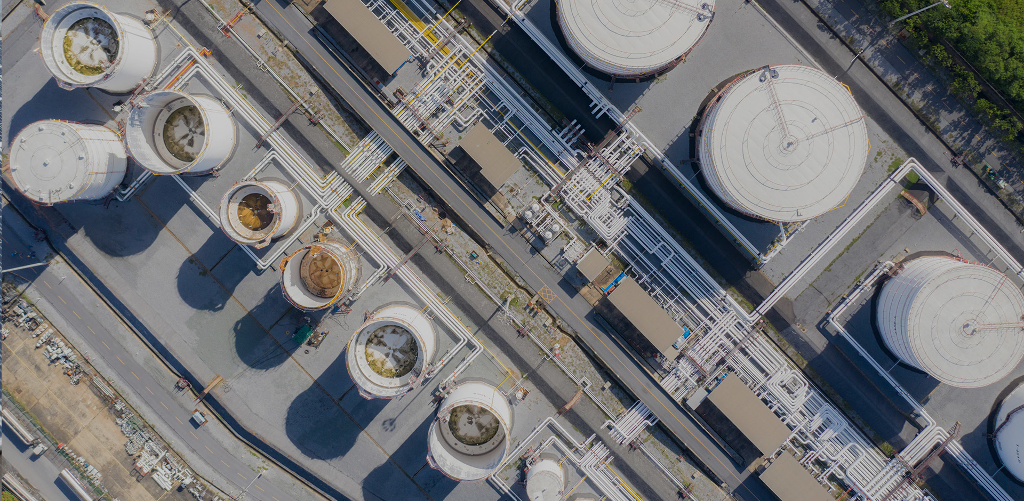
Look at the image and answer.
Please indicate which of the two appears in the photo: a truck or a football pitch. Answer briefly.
truck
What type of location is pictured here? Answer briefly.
industrial area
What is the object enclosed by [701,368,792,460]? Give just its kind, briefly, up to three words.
shed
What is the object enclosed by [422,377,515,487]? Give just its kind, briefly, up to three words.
storage tank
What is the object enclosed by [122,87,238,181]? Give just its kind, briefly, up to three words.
storage tank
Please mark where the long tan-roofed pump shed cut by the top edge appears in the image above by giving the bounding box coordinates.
[316,0,414,82]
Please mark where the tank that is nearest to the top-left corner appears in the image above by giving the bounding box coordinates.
[38,0,160,95]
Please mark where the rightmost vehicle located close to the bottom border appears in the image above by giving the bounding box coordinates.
[60,471,90,501]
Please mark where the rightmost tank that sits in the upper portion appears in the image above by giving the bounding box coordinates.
[687,62,873,226]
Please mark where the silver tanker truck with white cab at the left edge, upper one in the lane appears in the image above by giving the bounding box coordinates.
[0,409,40,454]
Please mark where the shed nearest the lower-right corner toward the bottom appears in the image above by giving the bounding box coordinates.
[750,446,837,501]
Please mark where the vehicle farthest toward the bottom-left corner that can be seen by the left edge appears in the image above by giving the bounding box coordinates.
[2,475,29,501]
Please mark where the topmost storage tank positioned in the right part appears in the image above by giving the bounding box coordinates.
[545,0,714,83]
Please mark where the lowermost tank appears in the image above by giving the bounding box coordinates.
[523,456,566,501]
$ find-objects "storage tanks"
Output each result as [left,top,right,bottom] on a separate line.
[216,177,302,250]
[9,120,131,202]
[422,377,515,487]
[38,0,160,95]
[687,62,873,226]
[341,301,440,405]
[122,87,238,181]
[545,0,714,83]
[277,238,356,313]
[987,376,1024,493]
[868,249,1024,389]
[523,456,566,501]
